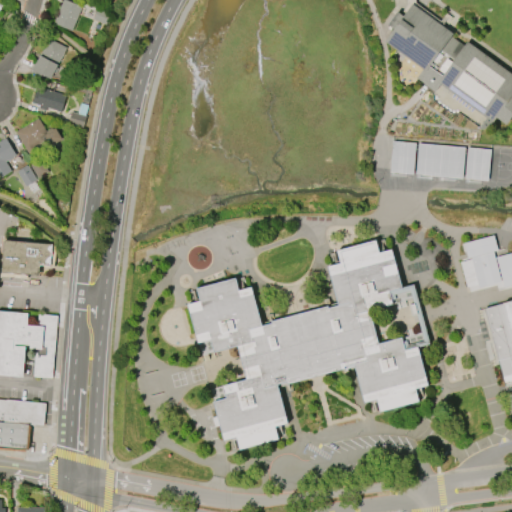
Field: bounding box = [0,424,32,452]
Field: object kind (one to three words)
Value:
building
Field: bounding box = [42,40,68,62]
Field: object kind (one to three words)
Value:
house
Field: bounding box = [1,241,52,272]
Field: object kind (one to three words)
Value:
building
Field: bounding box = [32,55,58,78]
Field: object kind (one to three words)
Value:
house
